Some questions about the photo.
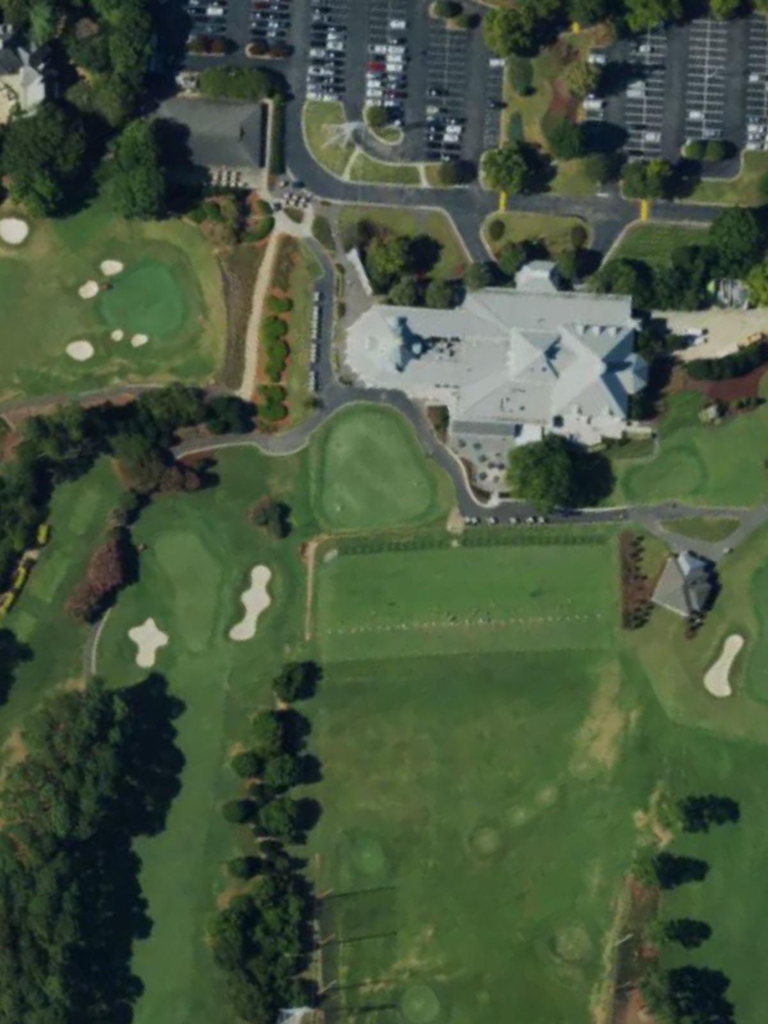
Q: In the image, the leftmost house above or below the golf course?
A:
above it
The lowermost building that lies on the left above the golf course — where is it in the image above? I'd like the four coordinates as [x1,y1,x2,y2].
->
[158,99,262,168]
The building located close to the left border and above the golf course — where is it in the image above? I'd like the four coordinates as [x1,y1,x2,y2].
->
[0,26,45,125]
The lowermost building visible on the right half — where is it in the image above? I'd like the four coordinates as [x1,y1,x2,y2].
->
[651,549,712,617]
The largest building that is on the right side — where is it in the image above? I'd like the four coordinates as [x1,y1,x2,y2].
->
[342,261,648,452]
